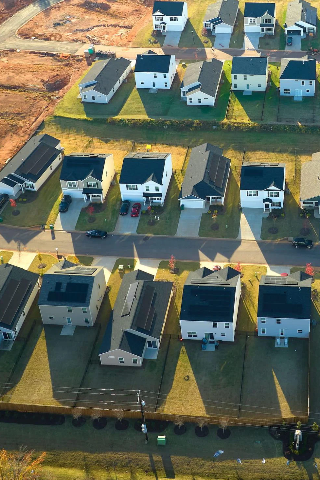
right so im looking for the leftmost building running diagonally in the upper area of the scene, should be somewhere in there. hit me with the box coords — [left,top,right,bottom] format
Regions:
[0,131,74,195]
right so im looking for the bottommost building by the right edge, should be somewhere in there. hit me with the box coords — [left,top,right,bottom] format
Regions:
[256,271,313,340]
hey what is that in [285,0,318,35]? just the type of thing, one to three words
house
